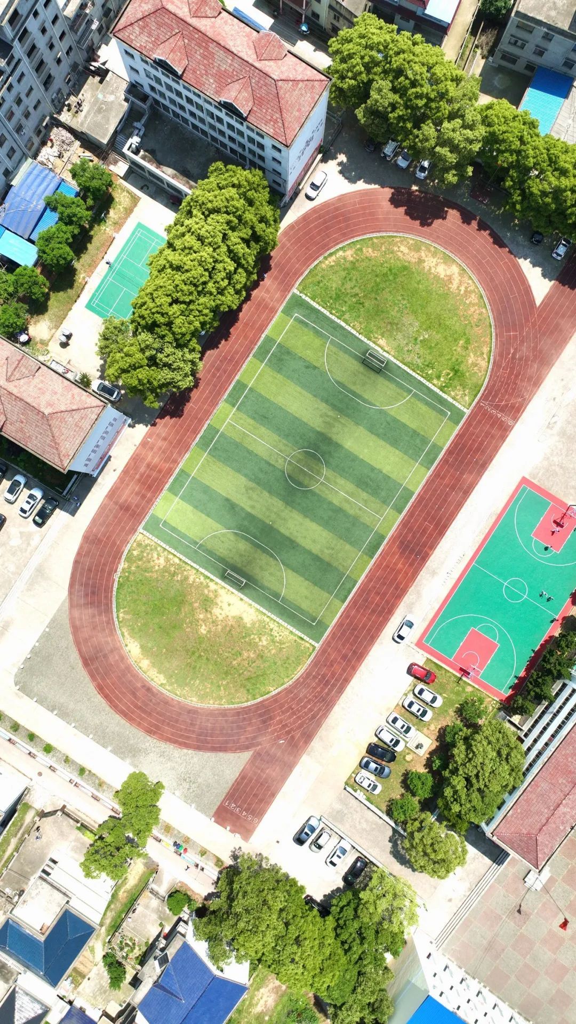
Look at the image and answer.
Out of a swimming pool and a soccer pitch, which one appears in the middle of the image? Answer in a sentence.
The one visible in the middle of the image is a soccer pitch.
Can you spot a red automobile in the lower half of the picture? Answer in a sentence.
Yes, in the lower half of the picture there is a red automobile.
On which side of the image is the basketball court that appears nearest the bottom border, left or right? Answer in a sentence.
It is on the right.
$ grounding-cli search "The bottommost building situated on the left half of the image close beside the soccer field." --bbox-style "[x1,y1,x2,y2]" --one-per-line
[0,336,130,476]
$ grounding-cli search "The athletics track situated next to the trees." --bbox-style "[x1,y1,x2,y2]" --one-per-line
[68,186,576,842]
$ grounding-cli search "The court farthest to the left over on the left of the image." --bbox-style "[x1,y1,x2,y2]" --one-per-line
[86,224,165,328]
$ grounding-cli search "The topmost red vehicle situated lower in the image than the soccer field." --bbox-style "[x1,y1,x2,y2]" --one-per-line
[405,661,437,685]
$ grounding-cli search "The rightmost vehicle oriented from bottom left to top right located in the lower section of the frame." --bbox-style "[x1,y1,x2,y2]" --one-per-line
[391,613,416,645]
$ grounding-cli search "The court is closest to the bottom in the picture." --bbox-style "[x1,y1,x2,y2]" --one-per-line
[415,476,576,704]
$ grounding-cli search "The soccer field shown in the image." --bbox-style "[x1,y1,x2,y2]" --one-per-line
[141,292,470,646]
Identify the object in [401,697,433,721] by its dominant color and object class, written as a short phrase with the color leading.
white car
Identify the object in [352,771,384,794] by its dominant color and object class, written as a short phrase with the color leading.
white car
